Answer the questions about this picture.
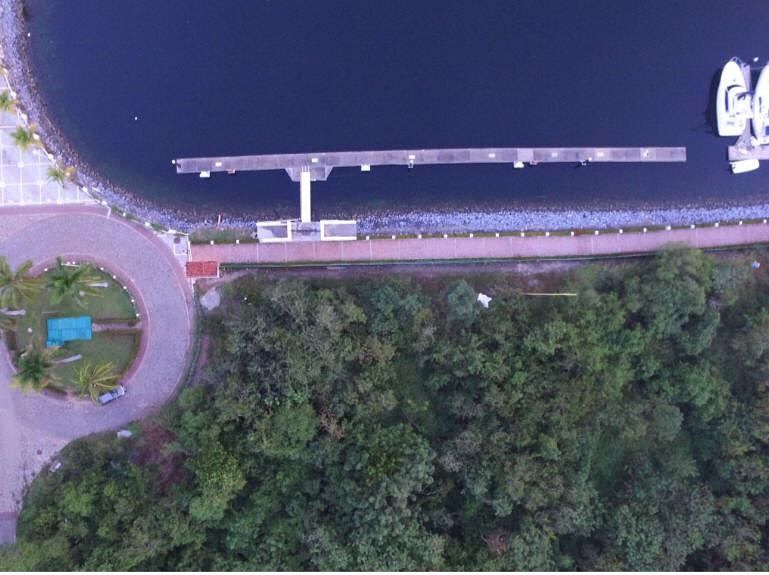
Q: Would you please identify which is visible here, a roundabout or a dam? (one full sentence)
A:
This aerial view contains a roundabout.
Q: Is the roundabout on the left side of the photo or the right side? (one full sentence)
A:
The roundabout sits on the left side.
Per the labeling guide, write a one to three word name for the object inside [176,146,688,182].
pier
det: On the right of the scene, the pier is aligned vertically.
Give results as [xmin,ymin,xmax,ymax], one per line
[727,64,769,161]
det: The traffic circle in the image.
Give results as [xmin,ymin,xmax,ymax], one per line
[4,254,150,400]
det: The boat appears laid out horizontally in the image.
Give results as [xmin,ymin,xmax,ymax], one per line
[731,160,761,173]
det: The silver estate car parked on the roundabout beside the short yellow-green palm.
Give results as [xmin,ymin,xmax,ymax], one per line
[98,386,125,405]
